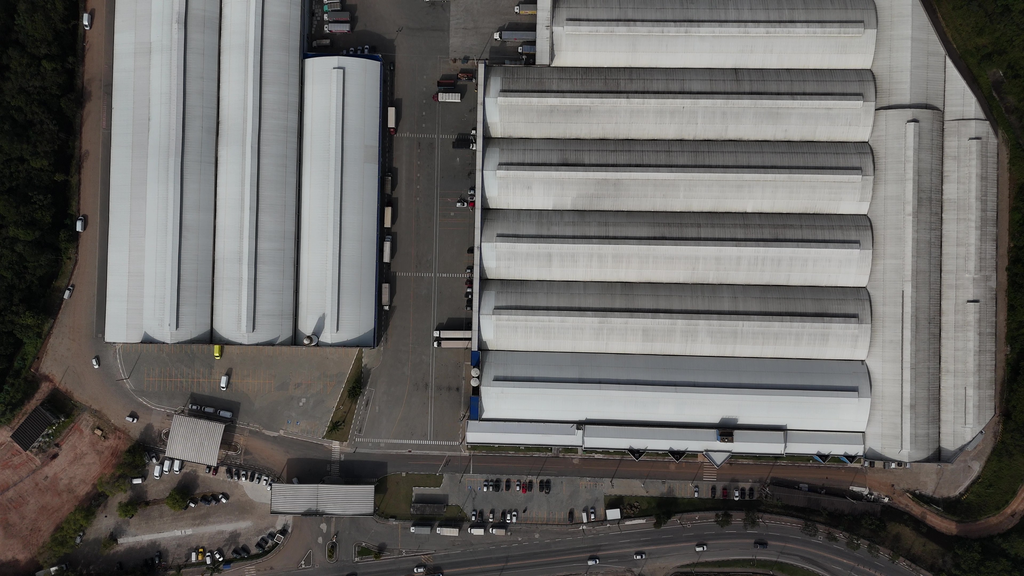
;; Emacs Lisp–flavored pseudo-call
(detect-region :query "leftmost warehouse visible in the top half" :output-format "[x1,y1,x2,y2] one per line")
[105,0,222,345]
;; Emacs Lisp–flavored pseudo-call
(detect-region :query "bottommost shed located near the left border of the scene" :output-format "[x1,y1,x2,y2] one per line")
[10,405,61,454]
